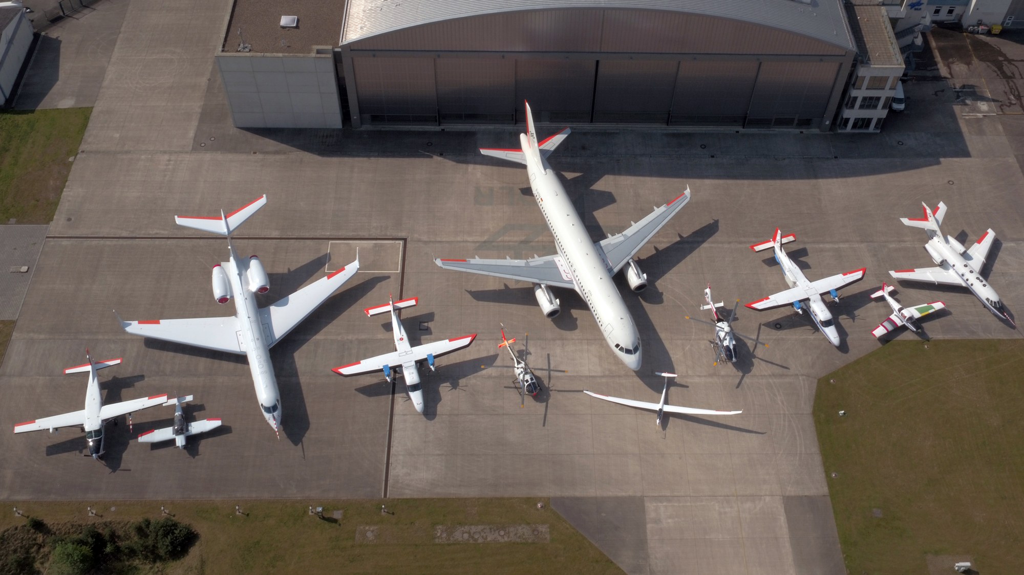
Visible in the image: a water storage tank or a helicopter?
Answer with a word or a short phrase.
helicopter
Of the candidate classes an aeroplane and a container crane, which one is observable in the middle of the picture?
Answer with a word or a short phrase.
aeroplane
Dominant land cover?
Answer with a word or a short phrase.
paved ground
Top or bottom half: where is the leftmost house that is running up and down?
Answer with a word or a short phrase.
top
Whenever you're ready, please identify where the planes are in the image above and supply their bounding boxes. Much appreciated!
[14,350,167,460]
[583,372,744,432]
[139,391,221,450]
[434,101,690,370]
[112,195,359,440]
[742,230,864,346]
[871,283,944,338]
[891,201,1013,328]
[331,294,476,413]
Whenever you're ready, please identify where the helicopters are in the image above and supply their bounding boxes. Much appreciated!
[685,283,770,365]
[482,322,568,407]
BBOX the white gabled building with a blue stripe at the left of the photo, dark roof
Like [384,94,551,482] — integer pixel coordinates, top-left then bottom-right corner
[0,8,45,106]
